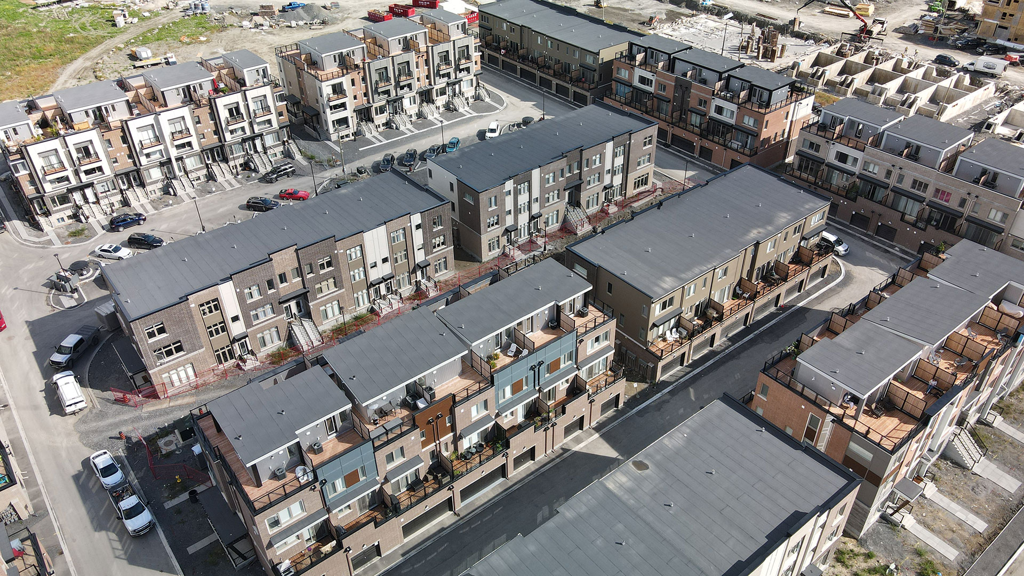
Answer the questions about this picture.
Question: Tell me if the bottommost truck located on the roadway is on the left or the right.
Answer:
left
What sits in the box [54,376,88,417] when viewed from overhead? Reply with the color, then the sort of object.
white truck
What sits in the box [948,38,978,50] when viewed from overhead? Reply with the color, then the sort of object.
black vehicle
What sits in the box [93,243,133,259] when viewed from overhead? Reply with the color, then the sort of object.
white car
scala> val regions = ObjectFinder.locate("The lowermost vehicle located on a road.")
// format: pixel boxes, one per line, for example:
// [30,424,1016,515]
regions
[106,479,154,536]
